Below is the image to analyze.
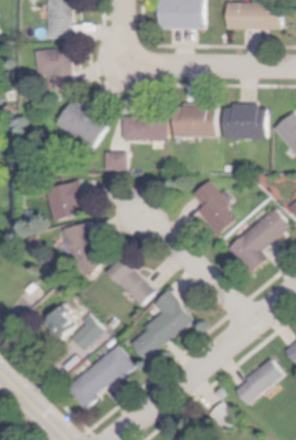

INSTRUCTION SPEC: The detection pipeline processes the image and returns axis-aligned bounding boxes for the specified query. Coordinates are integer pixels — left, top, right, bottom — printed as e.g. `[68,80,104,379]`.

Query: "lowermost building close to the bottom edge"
[208,402,233,427]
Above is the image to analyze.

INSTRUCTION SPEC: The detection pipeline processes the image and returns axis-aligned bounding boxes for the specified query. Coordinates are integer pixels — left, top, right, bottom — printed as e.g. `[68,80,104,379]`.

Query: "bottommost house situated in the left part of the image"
[72,345,138,407]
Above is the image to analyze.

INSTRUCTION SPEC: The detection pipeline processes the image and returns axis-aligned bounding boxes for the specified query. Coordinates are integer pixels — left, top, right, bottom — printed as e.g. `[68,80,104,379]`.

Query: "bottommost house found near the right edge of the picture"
[238,358,286,406]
